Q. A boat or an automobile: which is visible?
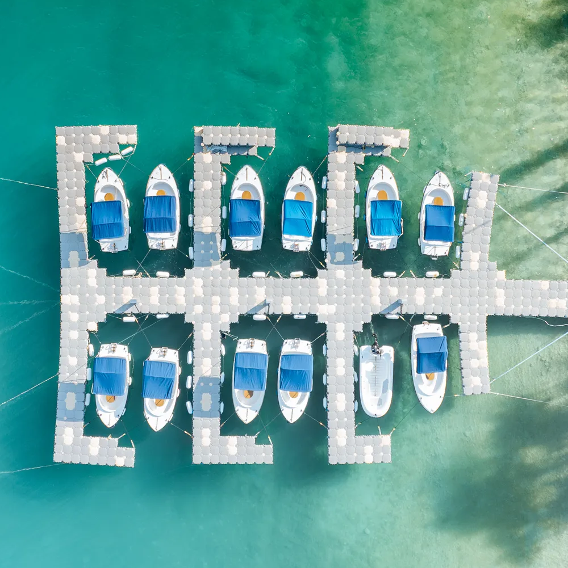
boat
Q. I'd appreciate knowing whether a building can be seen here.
No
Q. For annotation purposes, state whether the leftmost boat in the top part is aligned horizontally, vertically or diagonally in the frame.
vertically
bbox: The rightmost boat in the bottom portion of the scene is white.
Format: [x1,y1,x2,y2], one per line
[410,323,450,415]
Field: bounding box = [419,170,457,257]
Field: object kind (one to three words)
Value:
boat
